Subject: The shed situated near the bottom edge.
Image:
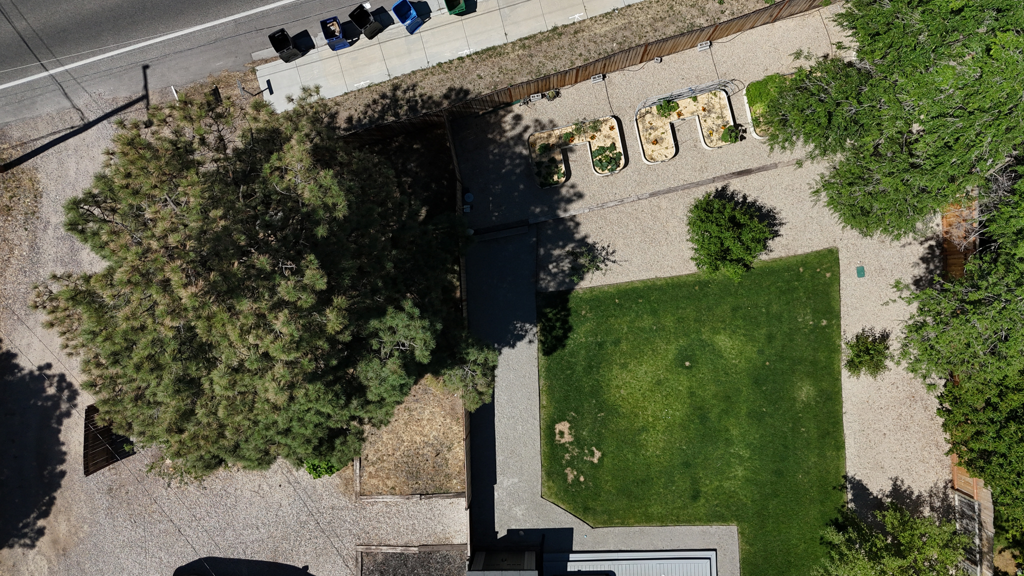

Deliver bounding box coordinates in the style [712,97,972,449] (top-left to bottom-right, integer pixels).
[466,545,537,576]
